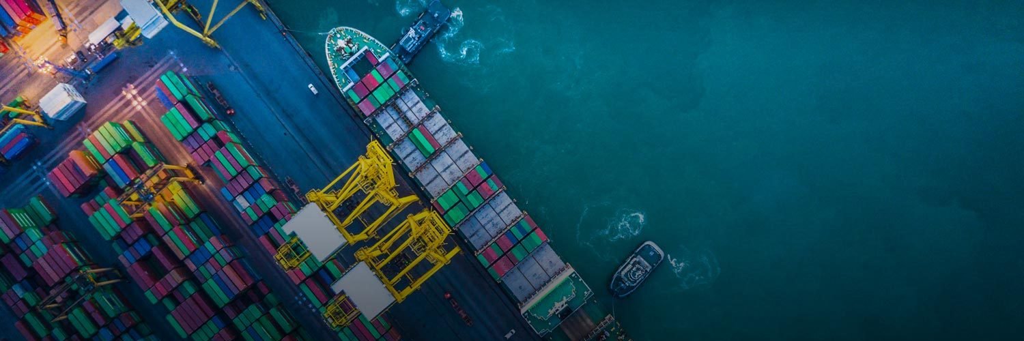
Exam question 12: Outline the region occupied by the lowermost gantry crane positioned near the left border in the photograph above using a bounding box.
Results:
[31,262,125,329]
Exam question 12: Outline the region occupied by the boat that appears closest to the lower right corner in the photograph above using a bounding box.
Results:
[612,237,666,295]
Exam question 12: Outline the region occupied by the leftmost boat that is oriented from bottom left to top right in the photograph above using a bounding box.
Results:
[392,0,451,60]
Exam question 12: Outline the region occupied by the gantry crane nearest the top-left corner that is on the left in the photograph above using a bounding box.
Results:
[0,106,52,141]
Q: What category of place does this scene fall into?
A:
port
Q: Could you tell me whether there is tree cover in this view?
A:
No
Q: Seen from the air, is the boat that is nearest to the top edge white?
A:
No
